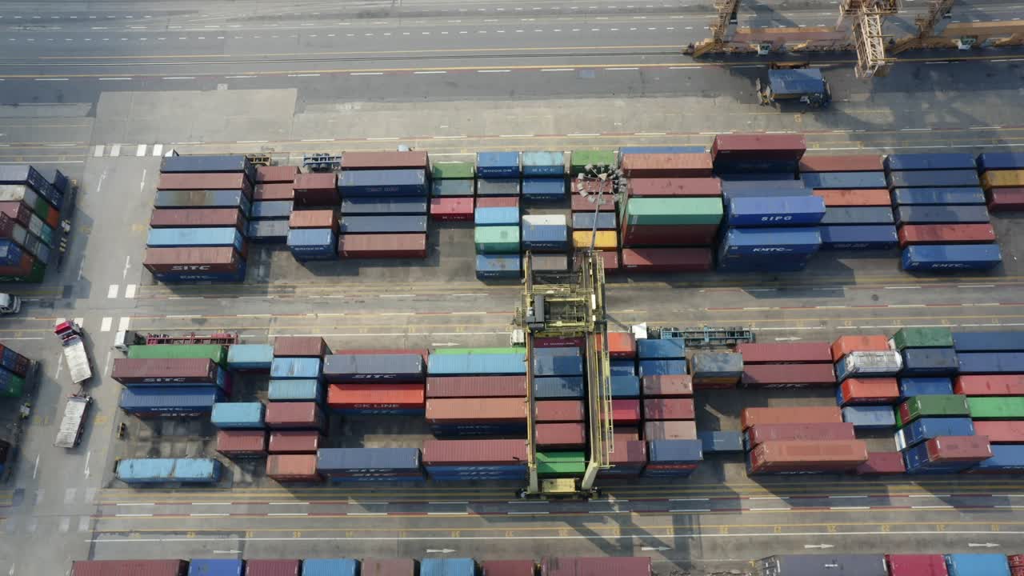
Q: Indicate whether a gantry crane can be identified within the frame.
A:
Yes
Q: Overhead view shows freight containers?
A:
Yes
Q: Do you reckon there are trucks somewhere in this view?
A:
Yes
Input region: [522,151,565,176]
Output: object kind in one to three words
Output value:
shipping container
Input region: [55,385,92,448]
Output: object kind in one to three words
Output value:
trailer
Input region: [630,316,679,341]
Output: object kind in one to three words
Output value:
truck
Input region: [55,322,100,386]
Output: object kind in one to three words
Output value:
truck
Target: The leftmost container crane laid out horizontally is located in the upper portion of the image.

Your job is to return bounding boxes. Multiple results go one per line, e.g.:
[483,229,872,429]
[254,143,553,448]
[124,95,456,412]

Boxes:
[690,0,904,98]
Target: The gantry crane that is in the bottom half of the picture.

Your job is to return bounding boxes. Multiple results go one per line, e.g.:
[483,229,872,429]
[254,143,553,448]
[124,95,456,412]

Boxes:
[508,248,620,497]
